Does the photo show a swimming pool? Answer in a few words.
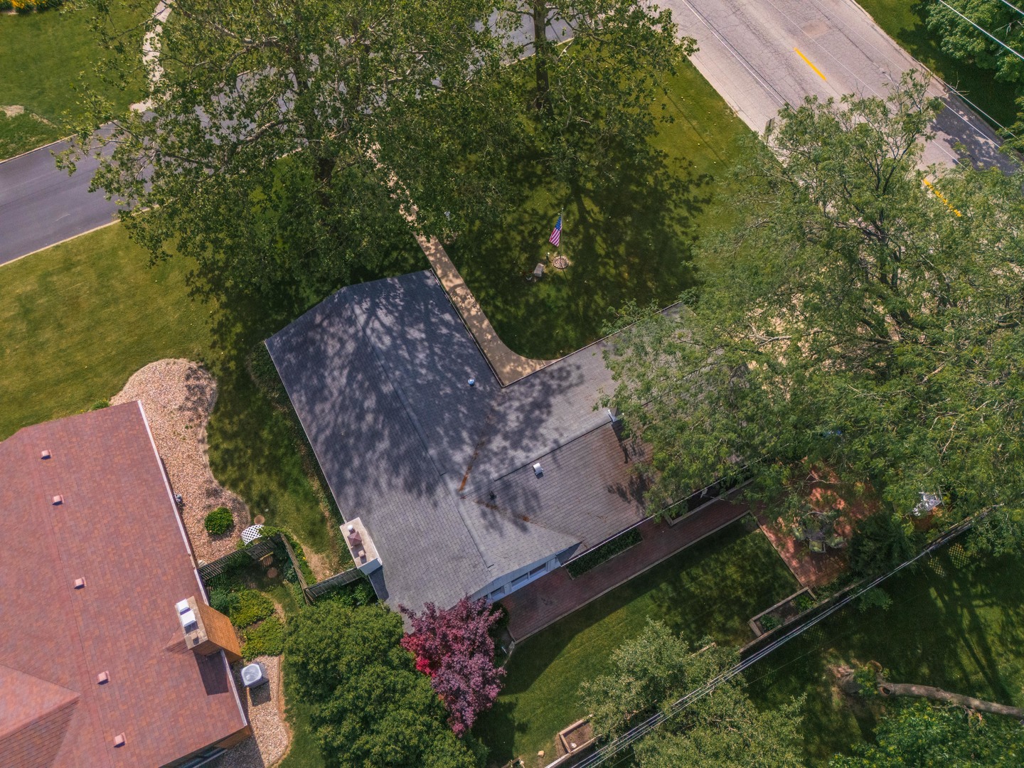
No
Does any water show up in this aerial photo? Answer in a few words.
No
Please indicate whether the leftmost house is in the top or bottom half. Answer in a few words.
bottom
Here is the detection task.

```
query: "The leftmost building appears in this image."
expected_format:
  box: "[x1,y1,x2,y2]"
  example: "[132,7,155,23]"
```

[0,399,255,768]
